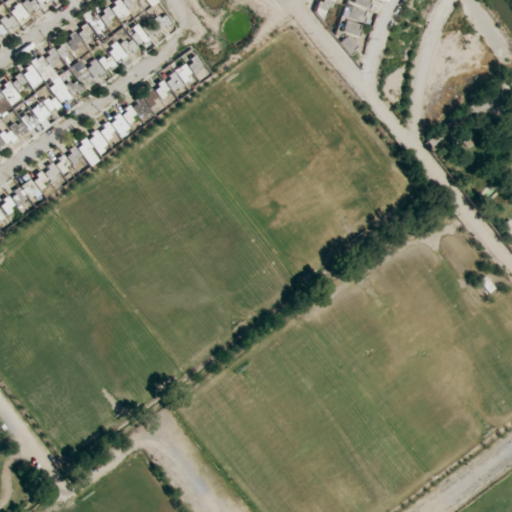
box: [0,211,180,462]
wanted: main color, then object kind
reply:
green soccer field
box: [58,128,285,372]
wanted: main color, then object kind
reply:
green soccer field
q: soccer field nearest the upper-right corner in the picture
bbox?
[178,22,408,282]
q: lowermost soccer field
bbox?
[82,453,180,512]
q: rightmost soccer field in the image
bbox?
[301,246,512,499]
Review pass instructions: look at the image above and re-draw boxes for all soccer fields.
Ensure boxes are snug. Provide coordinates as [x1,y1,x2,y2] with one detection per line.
[82,453,180,512]
[301,246,512,499]
[0,211,180,462]
[186,318,400,512]
[58,128,285,372]
[178,22,408,282]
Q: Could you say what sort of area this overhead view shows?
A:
sports ground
